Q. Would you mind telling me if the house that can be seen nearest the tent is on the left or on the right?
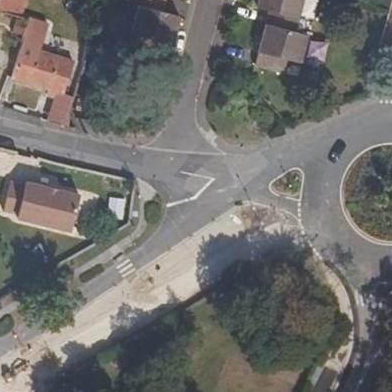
right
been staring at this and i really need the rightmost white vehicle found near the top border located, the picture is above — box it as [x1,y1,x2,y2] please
[236,6,257,22]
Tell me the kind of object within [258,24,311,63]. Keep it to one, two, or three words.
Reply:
house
